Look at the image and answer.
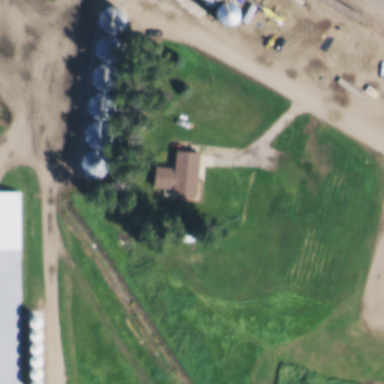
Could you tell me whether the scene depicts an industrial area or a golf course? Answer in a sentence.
It's an industrial area.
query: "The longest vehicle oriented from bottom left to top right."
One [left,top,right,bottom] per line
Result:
[242,4,260,26]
